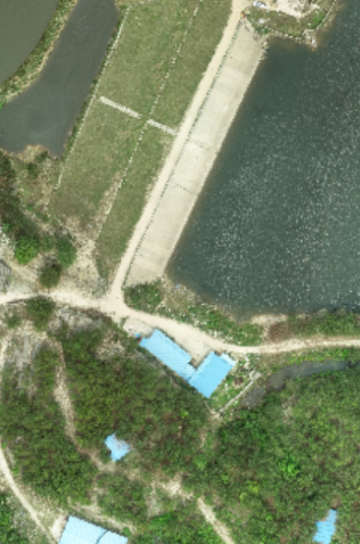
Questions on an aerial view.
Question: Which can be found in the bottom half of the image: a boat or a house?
house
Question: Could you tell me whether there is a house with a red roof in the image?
No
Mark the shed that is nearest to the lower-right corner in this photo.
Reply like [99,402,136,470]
[313,511,335,544]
